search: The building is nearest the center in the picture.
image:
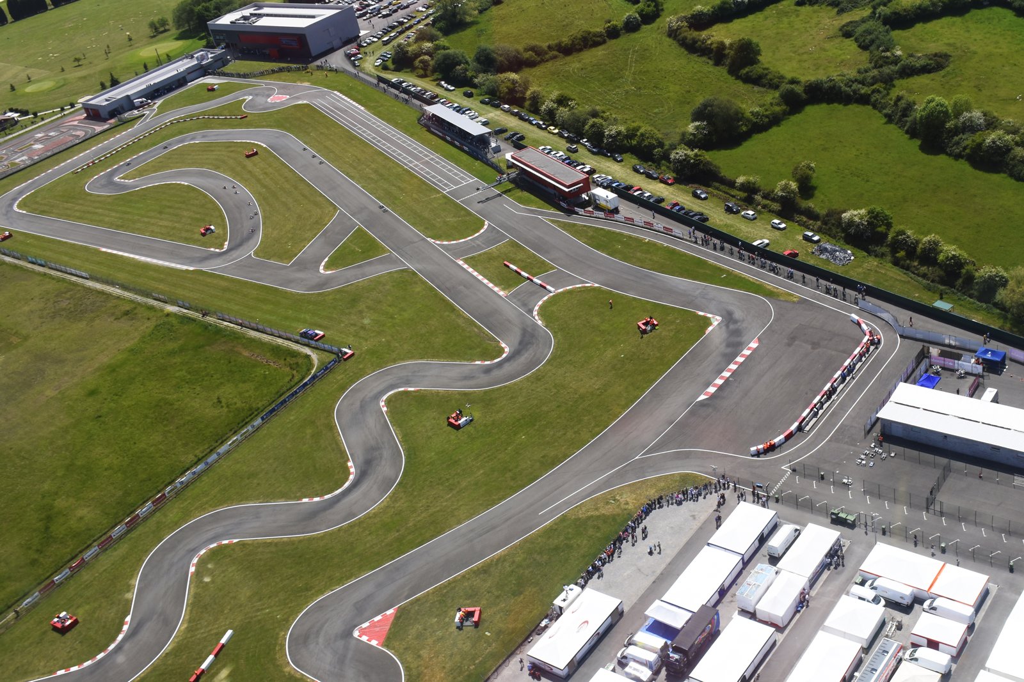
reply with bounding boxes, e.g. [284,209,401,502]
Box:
[503,147,592,210]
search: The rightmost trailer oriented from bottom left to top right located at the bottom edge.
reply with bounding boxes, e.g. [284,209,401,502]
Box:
[855,623,906,682]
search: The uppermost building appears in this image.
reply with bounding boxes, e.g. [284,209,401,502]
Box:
[207,3,355,56]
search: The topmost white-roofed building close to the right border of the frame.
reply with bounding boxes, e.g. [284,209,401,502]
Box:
[877,383,1024,465]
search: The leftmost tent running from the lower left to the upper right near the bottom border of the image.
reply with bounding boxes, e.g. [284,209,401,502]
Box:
[527,587,622,680]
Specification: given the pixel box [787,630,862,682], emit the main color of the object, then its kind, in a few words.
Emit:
white tent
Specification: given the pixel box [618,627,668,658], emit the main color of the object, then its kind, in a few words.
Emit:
white van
